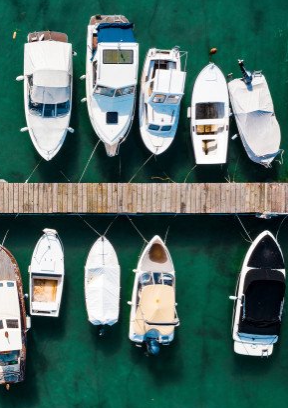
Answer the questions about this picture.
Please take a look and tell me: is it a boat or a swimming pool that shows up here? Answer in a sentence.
The image shows a boat.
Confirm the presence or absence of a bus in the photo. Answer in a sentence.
No, the frame has no bus in it.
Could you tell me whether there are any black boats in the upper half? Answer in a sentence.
No, in the upper half there is no black boat.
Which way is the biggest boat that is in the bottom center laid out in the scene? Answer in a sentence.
In this picture, the biggest boat that is in the bottom center is oriented up and down.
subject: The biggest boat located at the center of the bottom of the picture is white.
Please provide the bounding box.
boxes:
[129,233,180,361]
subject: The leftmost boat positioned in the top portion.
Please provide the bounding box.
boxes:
[23,30,73,160]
